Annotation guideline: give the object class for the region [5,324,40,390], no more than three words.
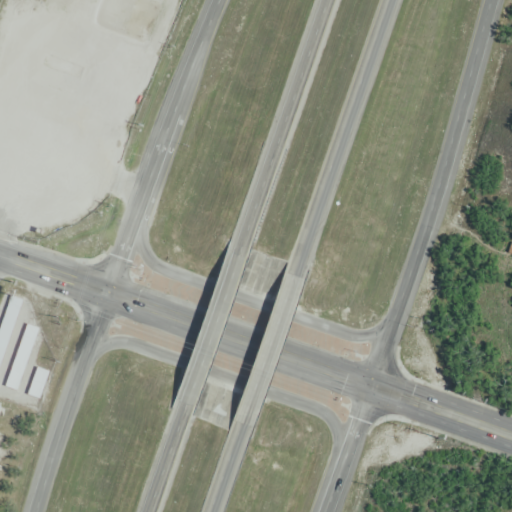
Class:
shed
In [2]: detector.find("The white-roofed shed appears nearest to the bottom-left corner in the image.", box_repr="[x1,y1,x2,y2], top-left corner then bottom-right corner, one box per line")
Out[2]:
[28,367,50,398]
